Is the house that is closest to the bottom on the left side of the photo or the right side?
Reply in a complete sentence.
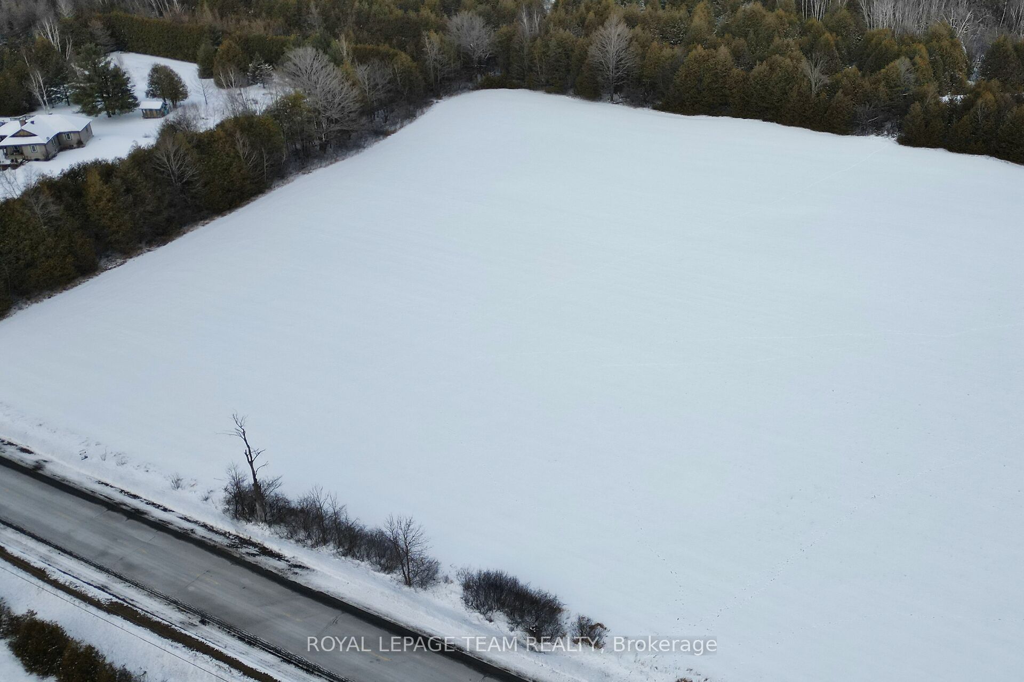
You can find the house that is closest to the bottom on the left side of the picture.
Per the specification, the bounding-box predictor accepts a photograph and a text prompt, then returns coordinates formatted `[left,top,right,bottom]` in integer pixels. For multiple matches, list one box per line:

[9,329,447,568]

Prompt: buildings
[135,98,167,118]
[0,113,96,166]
